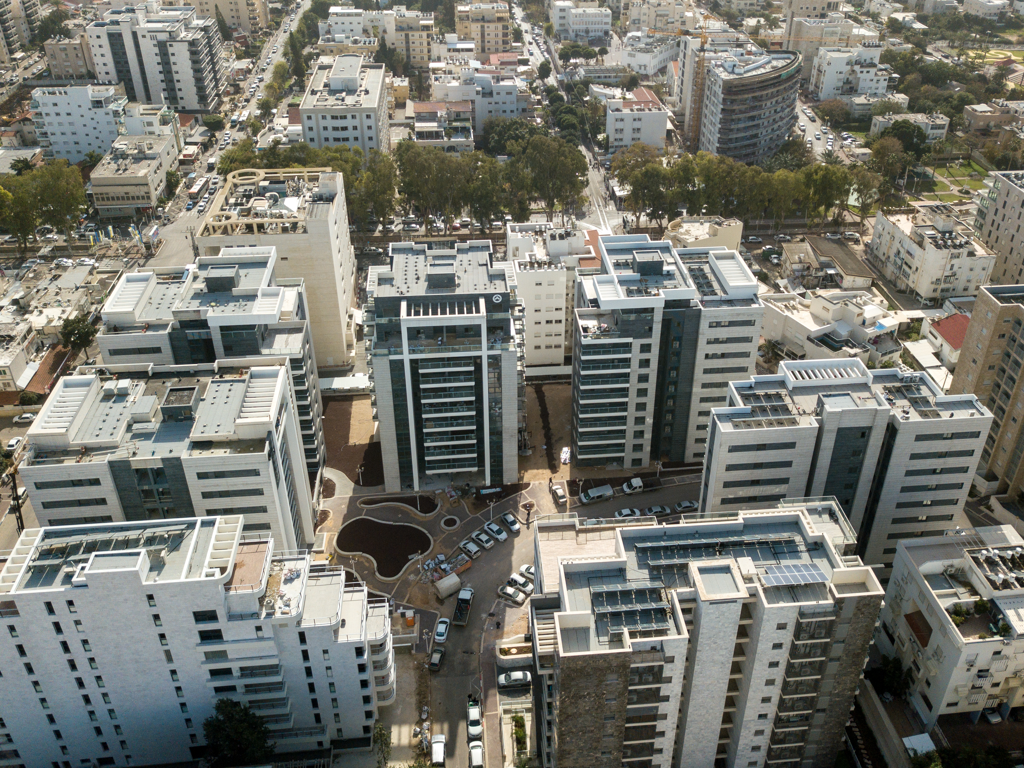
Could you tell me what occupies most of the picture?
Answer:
buildings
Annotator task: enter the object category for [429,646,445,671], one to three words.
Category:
car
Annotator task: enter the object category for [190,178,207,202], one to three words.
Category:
vehicle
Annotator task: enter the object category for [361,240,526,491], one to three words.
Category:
building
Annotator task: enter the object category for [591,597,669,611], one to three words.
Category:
solar array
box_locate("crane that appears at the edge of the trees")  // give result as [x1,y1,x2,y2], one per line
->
[661,13,862,146]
